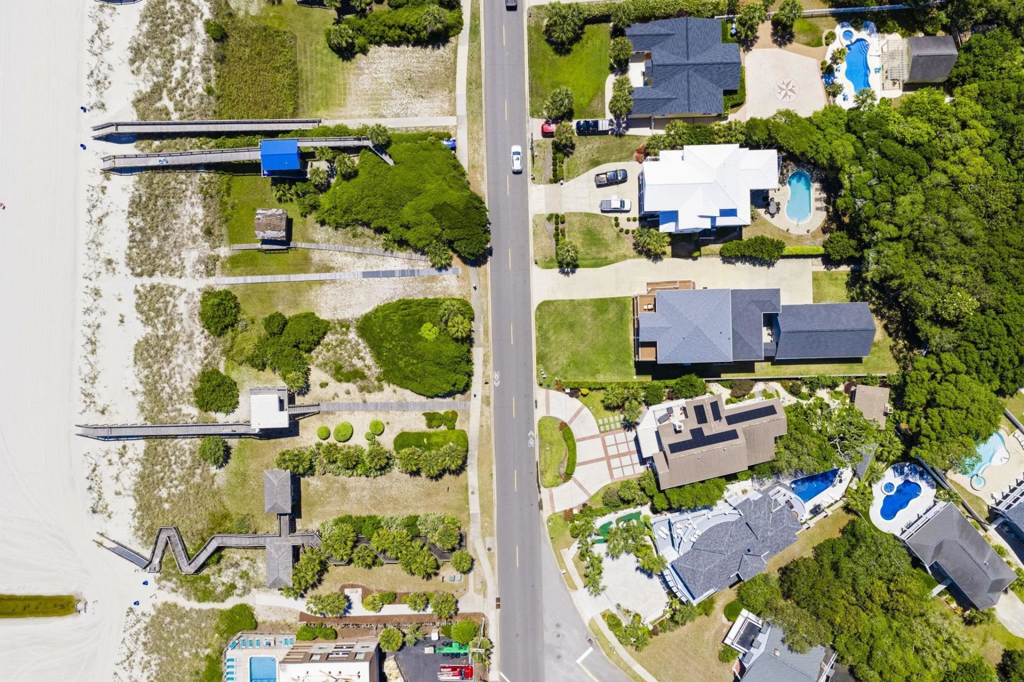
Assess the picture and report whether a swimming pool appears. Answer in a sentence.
Yes, the picture does show a swimming pool.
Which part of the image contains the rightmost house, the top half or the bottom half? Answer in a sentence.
You can find the rightmost house in the bottom half.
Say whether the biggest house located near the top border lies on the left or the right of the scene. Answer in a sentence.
It is on the right.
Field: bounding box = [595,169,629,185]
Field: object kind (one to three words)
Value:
vehicle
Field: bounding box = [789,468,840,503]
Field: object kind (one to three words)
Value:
swimming pool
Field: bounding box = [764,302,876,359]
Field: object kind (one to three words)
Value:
building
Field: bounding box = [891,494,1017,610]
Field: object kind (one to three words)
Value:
house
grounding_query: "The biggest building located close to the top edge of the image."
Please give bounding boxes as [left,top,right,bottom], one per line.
[626,17,740,123]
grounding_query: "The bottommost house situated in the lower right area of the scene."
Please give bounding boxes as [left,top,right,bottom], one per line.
[715,598,825,682]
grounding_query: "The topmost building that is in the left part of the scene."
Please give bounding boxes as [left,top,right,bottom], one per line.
[260,138,309,180]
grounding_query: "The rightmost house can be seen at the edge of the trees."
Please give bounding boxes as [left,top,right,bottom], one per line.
[978,470,1024,552]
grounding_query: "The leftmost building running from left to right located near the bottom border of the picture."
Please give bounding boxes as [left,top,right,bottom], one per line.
[277,636,380,682]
